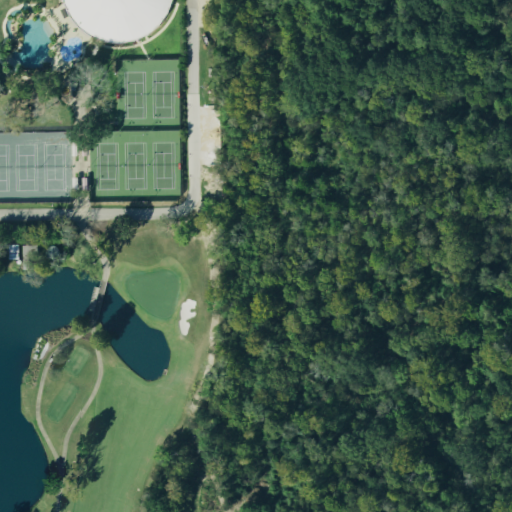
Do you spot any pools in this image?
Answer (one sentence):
Yes, I can see a pool in this picture.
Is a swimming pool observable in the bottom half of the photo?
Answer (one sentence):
No, there is no swimming pool in the bottom half of the photo.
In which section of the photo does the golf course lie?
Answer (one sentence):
Look in the bottom left portion of the view to spot the golf course.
